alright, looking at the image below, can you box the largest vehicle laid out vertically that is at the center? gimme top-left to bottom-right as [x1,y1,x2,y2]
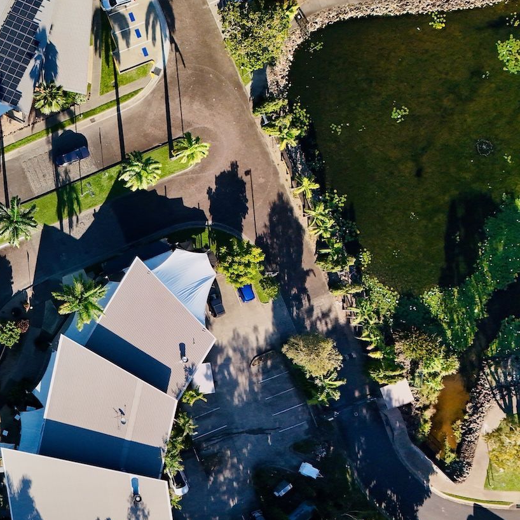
[208,279,227,318]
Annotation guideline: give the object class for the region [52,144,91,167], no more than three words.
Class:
car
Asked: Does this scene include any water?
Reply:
Yes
